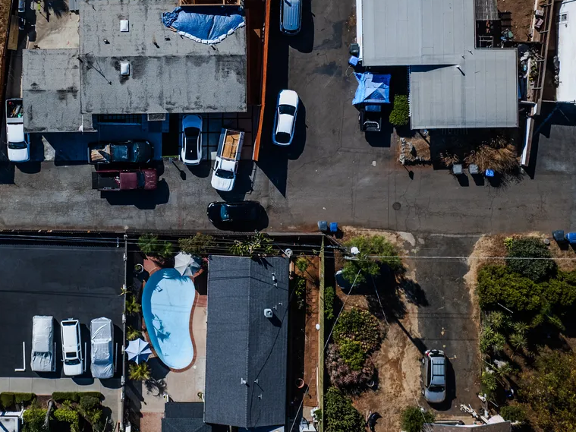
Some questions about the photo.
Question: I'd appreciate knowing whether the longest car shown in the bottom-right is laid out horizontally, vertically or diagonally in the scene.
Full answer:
Seen from above, the longest car shown in the bottom-right lies vertically.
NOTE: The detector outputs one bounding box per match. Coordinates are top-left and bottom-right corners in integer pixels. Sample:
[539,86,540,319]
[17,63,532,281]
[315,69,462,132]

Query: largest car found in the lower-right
[421,348,450,406]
